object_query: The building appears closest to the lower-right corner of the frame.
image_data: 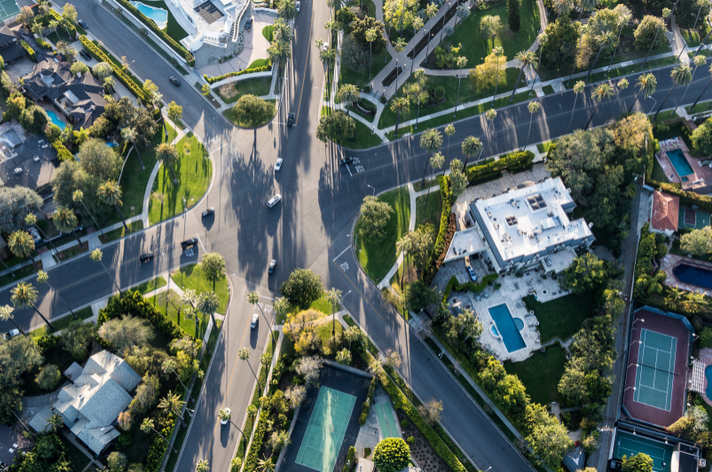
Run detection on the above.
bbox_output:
[669,443,700,472]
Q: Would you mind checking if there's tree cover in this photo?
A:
Yes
